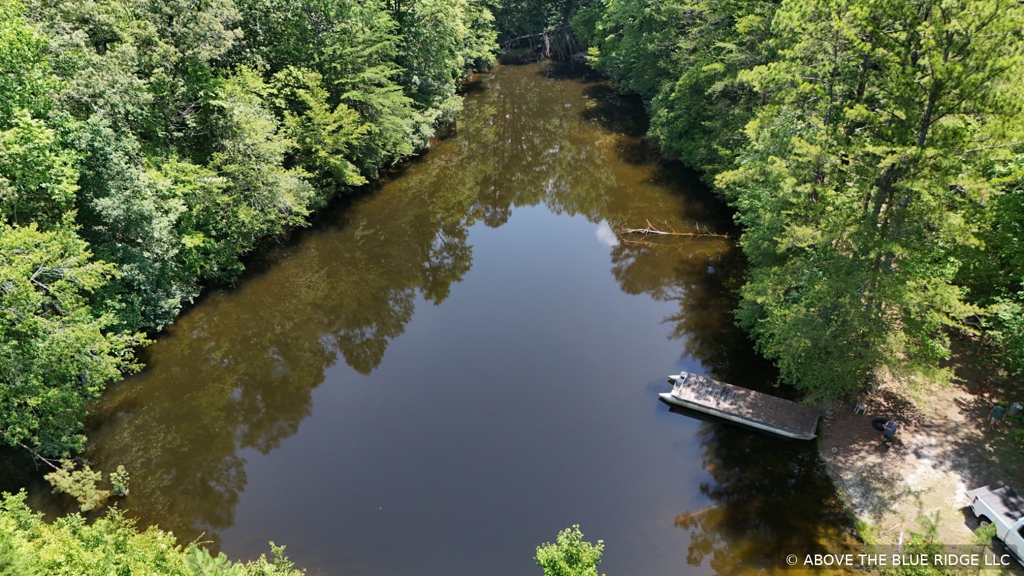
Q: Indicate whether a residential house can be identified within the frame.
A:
No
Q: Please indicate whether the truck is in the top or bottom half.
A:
bottom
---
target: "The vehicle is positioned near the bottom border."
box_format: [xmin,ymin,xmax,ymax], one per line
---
[966,483,1024,561]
